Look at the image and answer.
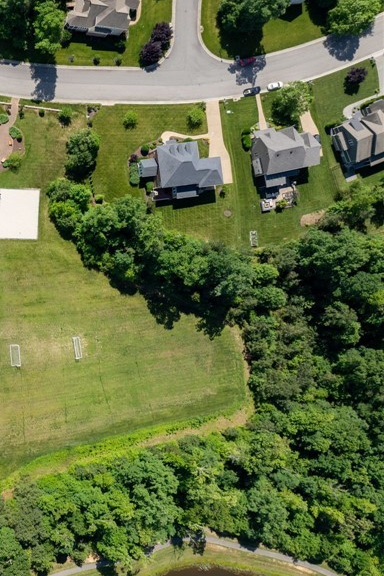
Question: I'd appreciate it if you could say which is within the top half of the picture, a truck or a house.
house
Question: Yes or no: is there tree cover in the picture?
Yes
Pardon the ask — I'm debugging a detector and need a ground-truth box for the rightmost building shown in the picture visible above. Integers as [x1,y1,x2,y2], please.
[331,97,384,179]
